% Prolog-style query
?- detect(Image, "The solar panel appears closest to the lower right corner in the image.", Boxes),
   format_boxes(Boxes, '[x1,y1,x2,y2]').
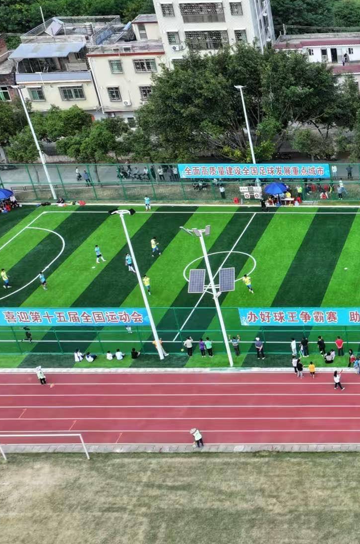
[219,270,238,295]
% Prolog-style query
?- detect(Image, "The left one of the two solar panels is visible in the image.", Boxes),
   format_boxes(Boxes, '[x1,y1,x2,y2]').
[188,270,207,295]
